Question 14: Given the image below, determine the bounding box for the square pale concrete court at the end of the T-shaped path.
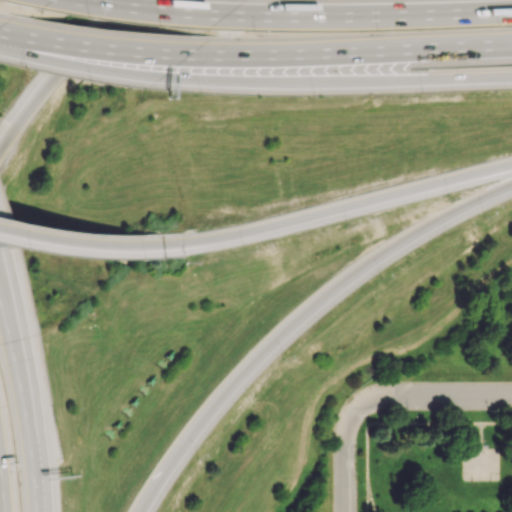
[463,446,500,481]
